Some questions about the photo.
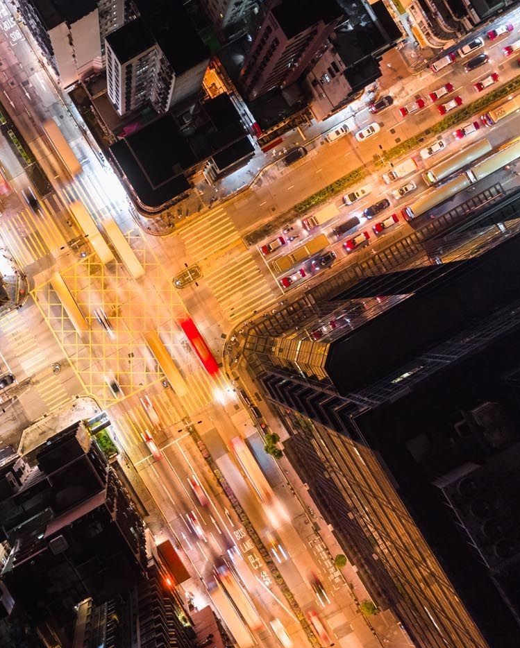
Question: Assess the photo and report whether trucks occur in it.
Yes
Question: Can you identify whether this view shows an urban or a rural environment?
urban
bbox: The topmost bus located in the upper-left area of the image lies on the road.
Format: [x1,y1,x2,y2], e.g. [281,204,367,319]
[40,114,87,184]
